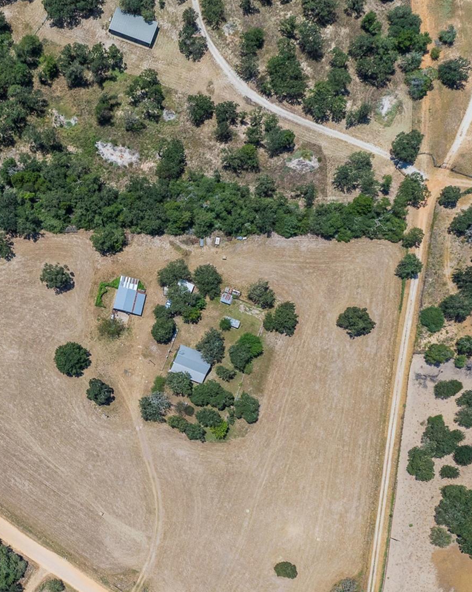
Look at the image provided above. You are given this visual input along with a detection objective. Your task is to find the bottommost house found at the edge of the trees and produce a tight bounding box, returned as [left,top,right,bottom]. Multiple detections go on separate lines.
[169,347,211,382]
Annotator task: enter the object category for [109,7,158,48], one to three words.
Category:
barn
